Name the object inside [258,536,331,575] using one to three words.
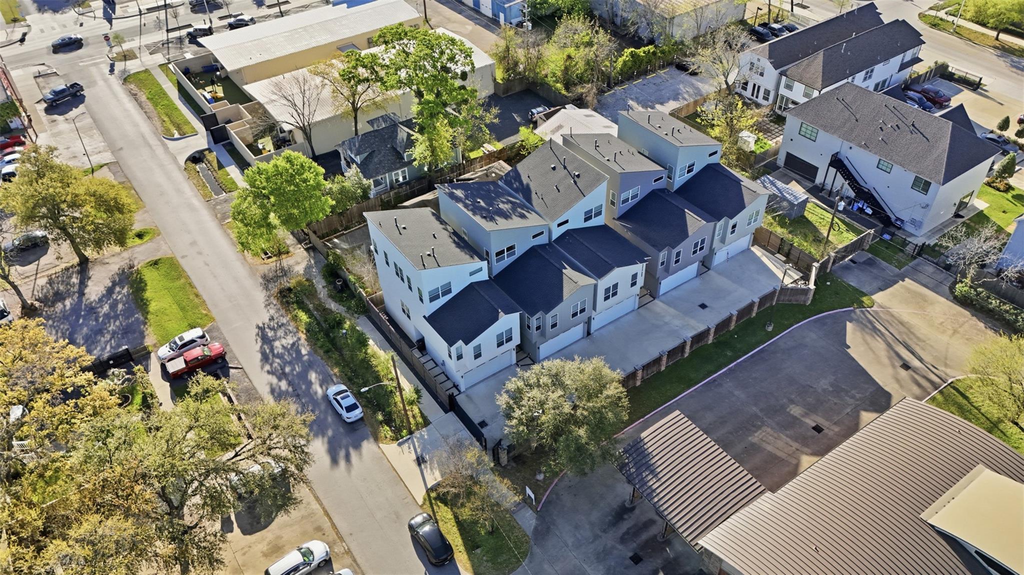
car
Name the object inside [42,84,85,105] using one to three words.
truck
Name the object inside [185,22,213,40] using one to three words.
car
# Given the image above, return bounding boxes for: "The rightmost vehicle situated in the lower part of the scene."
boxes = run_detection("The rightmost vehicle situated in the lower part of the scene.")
[406,507,458,569]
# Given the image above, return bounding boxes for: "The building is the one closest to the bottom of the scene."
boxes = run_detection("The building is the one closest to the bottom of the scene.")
[697,396,1024,575]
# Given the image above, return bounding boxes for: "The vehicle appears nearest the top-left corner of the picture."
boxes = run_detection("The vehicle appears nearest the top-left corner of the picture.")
[52,34,82,48]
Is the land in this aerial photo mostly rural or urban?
urban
